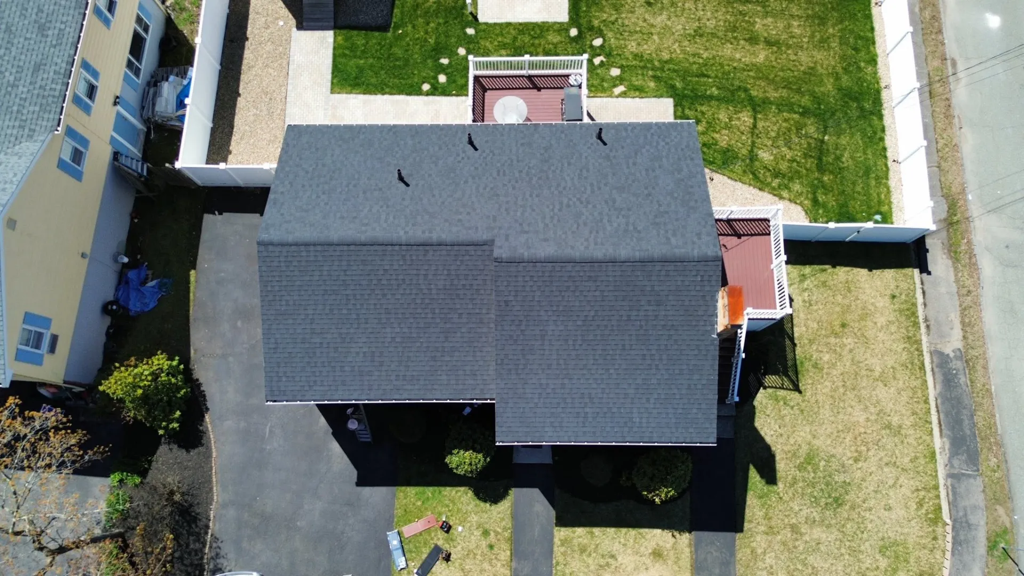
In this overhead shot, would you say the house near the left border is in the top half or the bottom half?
top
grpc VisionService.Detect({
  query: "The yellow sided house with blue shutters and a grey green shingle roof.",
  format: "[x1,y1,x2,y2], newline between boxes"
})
[0,0,167,393]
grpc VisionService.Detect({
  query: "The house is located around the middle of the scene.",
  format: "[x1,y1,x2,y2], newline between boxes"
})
[259,120,745,448]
